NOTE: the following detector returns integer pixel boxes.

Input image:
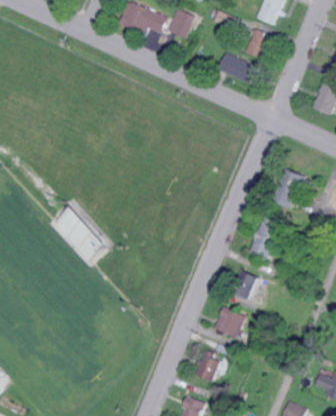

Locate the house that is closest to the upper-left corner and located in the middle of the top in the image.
[122,2,172,38]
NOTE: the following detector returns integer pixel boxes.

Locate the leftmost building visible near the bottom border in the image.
[180,396,207,416]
